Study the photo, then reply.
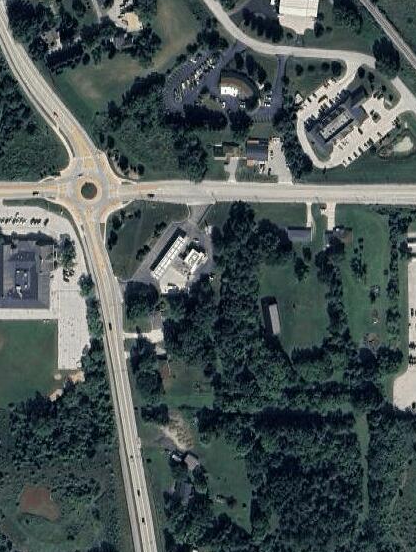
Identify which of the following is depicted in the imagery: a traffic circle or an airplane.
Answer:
traffic circle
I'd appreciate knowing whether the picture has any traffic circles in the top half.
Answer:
Yes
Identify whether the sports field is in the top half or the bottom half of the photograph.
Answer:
bottom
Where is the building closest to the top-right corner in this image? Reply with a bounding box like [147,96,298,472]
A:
[278,0,318,18]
